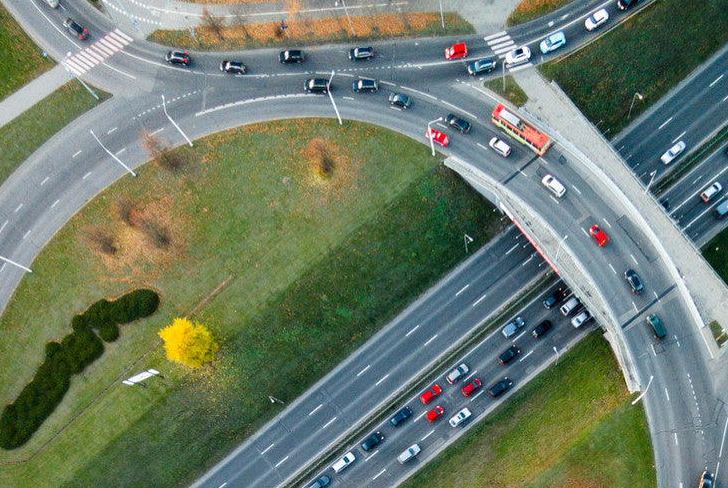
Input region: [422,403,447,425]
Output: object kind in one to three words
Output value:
car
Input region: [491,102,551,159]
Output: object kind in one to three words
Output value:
bus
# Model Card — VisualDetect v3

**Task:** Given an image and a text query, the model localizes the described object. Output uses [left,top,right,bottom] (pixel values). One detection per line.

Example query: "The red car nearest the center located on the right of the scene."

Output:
[423,128,451,146]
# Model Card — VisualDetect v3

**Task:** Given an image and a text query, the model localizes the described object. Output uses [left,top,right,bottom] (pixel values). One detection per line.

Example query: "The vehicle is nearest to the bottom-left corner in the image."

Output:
[308,474,332,488]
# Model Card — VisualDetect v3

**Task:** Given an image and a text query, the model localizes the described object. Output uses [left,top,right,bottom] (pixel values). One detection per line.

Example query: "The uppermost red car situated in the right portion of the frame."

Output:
[443,43,469,59]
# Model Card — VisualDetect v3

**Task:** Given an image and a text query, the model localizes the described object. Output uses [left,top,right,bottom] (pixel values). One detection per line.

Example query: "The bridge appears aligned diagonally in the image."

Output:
[443,80,728,393]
